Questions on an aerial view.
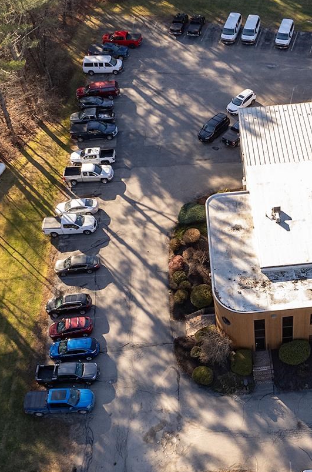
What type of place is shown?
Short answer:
parking lot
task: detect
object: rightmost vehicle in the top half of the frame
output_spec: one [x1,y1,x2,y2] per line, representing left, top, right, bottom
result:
[274,16,293,51]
